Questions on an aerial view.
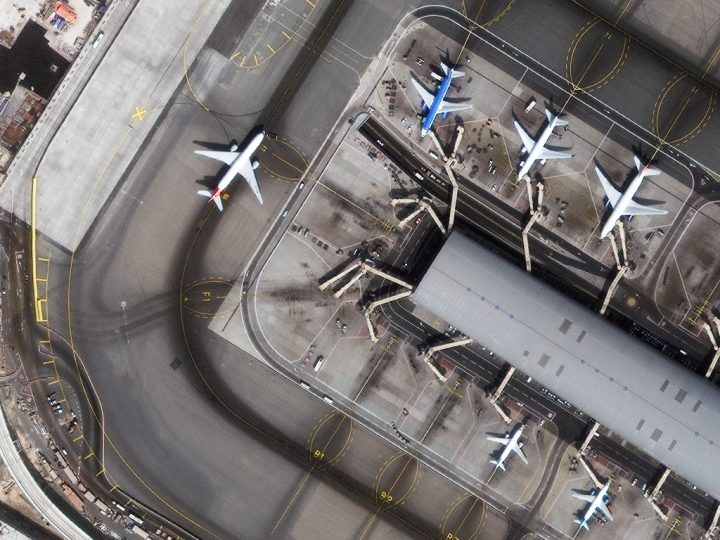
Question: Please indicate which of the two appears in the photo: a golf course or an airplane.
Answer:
airplane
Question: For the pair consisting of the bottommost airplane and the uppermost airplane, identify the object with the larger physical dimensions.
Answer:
the uppermost airplane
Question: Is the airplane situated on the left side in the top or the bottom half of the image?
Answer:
top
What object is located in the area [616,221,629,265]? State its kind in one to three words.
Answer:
jet bridge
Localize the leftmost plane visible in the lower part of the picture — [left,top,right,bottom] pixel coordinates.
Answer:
[487,426,528,472]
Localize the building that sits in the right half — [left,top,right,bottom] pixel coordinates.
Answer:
[411,229,720,499]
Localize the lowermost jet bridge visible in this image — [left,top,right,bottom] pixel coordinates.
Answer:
[648,498,669,523]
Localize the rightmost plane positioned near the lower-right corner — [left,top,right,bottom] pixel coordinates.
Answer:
[572,482,613,533]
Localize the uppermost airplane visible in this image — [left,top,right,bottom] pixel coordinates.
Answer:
[413,61,476,136]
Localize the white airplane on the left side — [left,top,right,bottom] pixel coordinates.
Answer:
[194,132,265,214]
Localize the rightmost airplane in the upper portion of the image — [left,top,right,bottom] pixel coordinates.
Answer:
[597,155,671,238]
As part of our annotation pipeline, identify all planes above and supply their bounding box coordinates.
[194,132,265,214]
[487,426,528,472]
[513,110,576,181]
[597,155,671,238]
[572,482,613,533]
[413,61,476,136]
